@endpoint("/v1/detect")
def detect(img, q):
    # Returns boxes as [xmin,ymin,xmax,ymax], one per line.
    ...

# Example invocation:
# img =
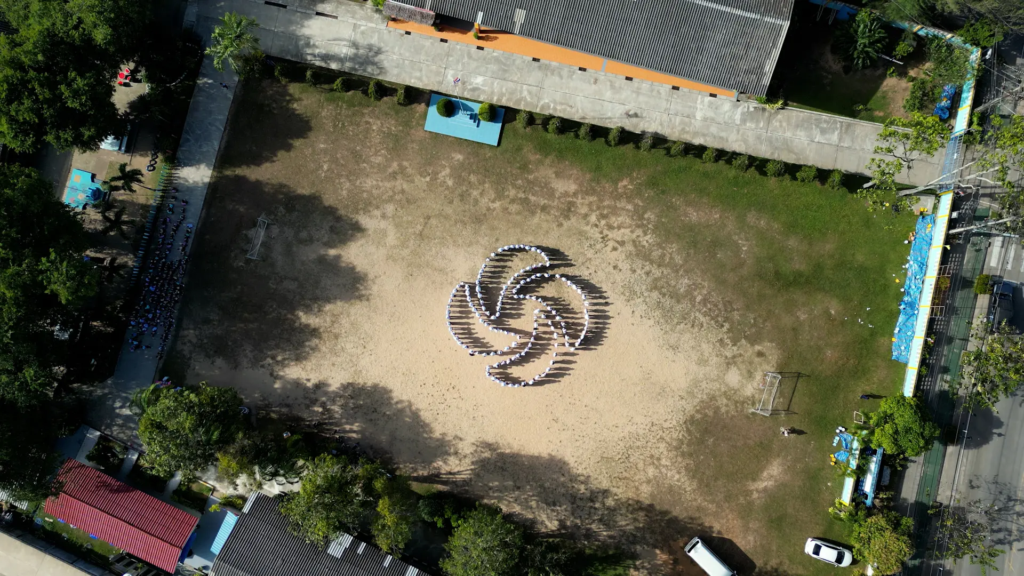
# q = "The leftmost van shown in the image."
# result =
[683,535,737,576]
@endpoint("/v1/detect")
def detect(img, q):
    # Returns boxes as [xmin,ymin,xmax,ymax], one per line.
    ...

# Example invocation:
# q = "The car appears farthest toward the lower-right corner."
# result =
[804,538,852,567]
